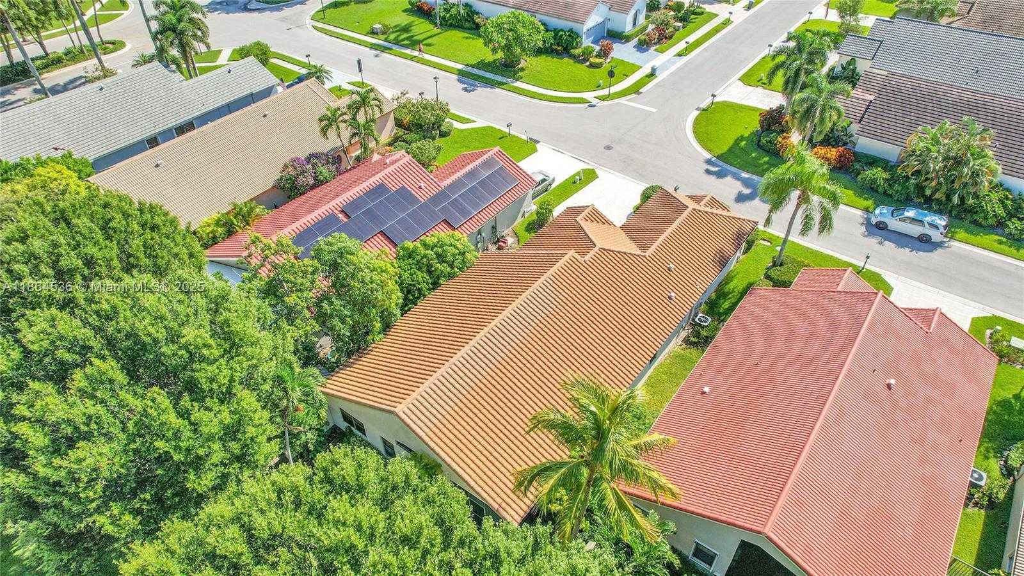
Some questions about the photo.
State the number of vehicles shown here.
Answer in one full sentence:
There are 2 vehicles in the image.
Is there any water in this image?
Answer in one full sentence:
No, the scene doesn't show any water.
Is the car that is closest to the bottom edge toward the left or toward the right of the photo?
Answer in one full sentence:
The car that is closest to the bottom edge sits on the right side.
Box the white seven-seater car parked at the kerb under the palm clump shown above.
[871,207,950,244]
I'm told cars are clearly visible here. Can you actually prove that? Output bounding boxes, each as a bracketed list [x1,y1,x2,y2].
[871,207,950,244]
[528,175,562,210]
